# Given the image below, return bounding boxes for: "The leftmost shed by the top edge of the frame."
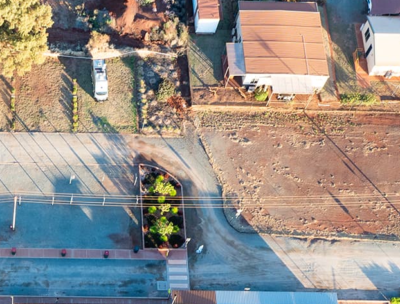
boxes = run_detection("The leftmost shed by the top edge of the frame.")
[193,0,220,35]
